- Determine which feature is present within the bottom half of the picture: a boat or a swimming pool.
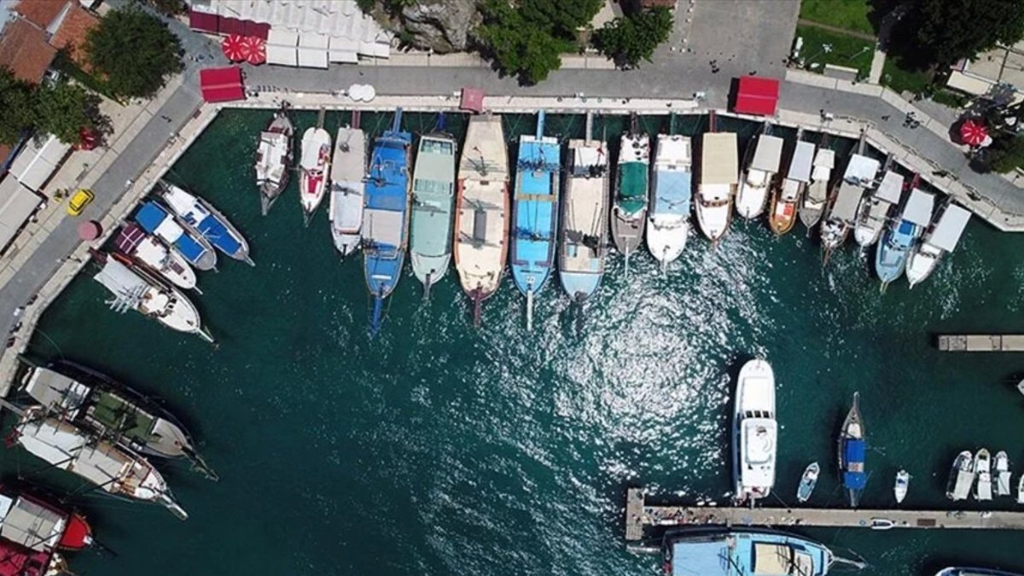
boat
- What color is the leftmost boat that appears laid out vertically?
white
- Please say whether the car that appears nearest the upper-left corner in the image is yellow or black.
yellow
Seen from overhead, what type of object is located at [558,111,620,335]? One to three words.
boat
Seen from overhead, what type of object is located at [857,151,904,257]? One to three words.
boat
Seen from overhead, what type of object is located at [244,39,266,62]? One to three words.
umbrella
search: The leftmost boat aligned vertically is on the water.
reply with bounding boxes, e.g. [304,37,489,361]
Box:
[249,101,301,214]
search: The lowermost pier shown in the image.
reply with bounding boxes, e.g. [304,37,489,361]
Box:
[626,487,1024,540]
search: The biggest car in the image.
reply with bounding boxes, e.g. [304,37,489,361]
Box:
[63,186,93,217]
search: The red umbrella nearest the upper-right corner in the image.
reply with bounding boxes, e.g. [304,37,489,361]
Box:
[959,120,988,145]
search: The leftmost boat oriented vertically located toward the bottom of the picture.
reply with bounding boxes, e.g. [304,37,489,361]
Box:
[731,359,789,511]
